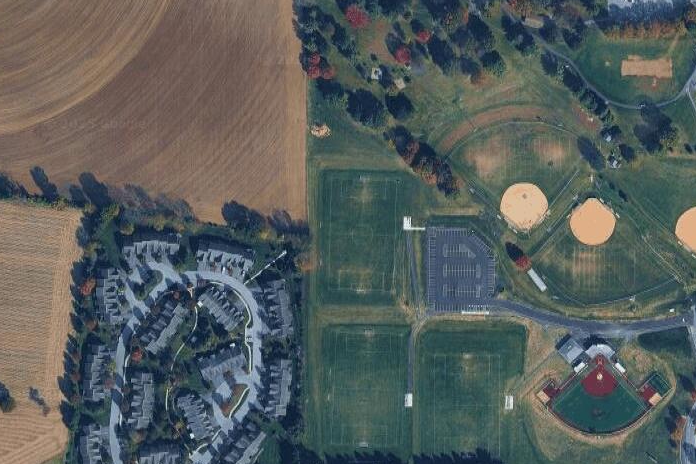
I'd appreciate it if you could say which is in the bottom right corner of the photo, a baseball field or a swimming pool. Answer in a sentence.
What appears in the bottom right corner of the photo is a baseball field.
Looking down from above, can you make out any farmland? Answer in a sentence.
Yes, farmland can be seen from above here.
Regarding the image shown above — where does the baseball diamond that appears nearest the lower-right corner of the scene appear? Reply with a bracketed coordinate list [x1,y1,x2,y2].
[543,353,659,436]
